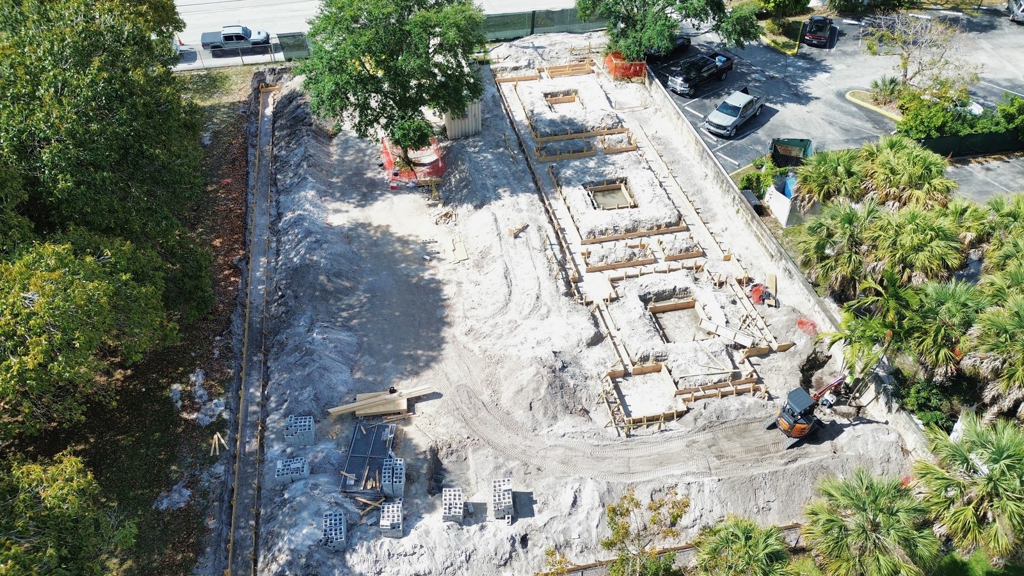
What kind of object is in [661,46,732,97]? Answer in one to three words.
truck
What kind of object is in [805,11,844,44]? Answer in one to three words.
car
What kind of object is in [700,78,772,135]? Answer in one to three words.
truck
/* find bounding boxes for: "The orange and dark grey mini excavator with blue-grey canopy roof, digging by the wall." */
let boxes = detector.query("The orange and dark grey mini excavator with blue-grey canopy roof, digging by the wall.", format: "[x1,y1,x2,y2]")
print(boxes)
[766,368,853,456]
